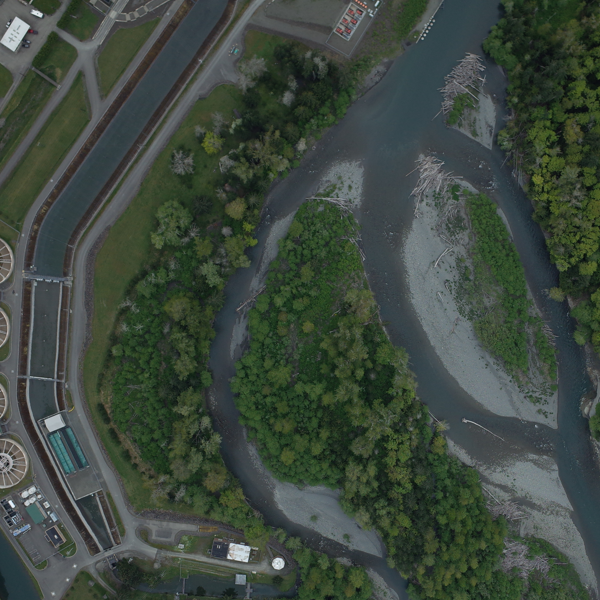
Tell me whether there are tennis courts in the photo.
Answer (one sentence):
No, I find no tennis court anywhere in the image.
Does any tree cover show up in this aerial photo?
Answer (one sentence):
Yes, there is tree cover in the image.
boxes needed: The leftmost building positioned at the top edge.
[0,16,33,54]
